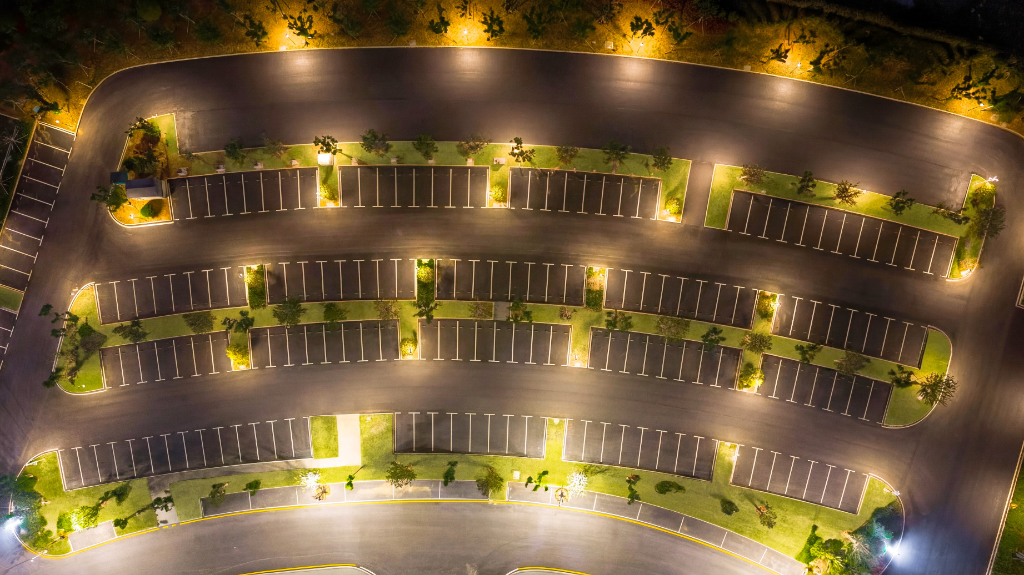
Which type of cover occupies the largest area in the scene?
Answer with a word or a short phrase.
paved ground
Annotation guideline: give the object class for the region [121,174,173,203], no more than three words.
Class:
shed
